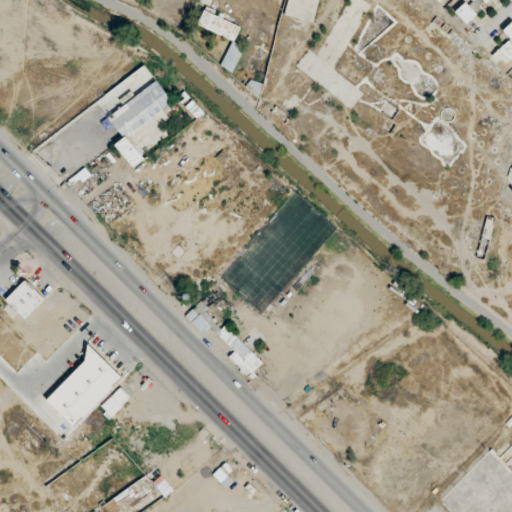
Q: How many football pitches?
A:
1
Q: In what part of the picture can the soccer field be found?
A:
center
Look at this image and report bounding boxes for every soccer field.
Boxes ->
[224,193,336,311]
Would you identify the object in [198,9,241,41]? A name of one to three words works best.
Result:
house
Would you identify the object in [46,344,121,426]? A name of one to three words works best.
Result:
building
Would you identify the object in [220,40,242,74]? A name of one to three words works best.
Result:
barn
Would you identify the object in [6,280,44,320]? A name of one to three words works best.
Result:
building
